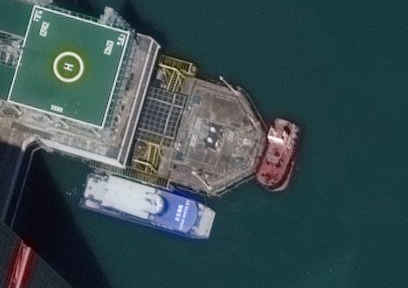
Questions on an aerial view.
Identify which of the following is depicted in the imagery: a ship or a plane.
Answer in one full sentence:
The image shows a ship.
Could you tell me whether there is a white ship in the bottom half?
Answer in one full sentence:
Yes, a white ship can be seen in the bottom half.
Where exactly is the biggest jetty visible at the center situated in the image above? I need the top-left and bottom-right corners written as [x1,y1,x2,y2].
[157,75,272,204]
